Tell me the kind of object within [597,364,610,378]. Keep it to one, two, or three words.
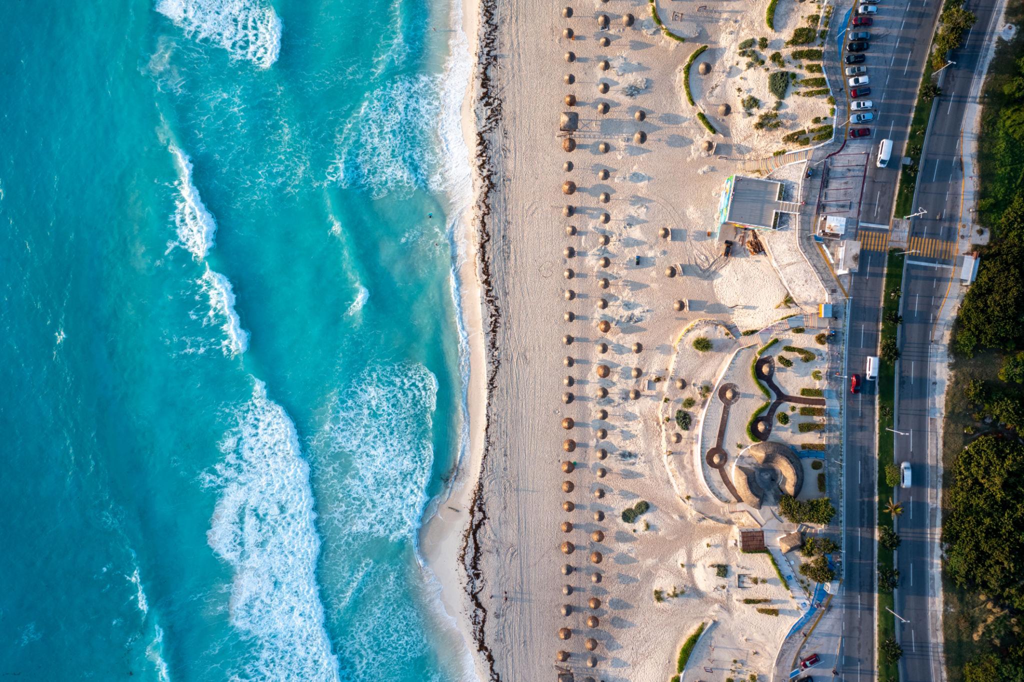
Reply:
umbrella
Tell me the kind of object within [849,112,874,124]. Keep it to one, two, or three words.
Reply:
vehicle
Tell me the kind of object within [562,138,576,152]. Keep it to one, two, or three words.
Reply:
umbrella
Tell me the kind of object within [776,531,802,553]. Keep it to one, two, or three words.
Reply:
shed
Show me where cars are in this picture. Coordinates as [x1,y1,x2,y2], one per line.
[848,76,870,87]
[850,374,862,394]
[848,128,870,138]
[858,0,879,6]
[795,674,815,682]
[848,30,870,42]
[845,65,867,77]
[849,87,871,99]
[849,112,874,124]
[850,100,872,111]
[800,651,820,668]
[852,16,872,27]
[844,54,865,65]
[846,41,868,53]
[857,4,878,15]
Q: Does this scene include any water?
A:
Yes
